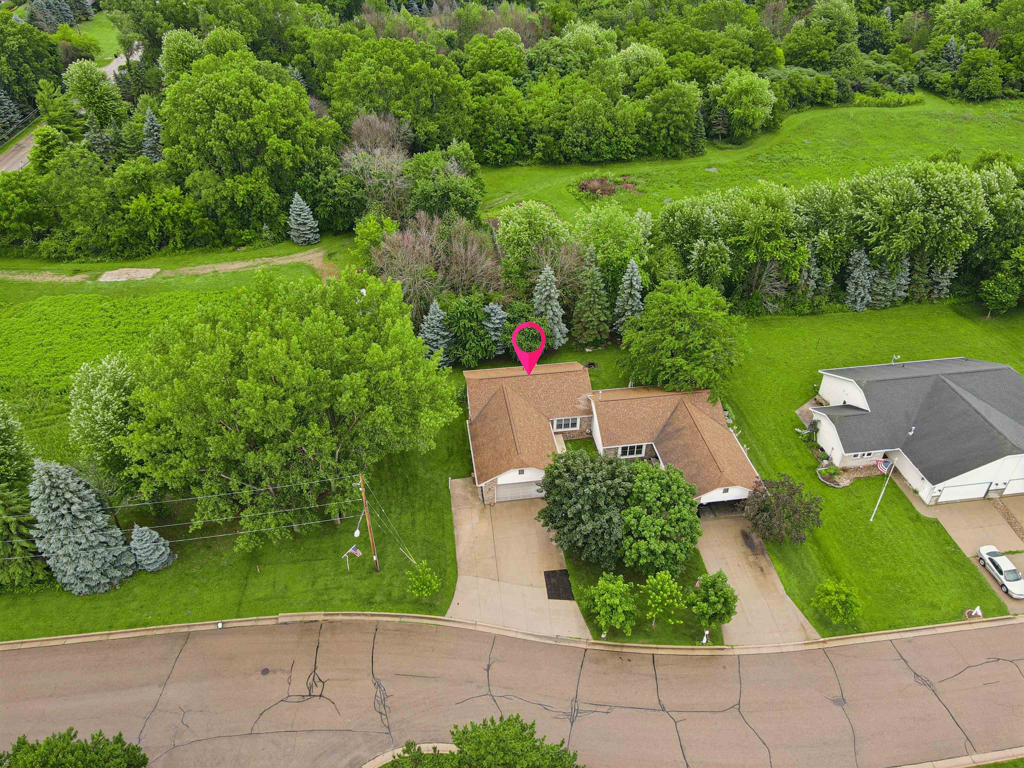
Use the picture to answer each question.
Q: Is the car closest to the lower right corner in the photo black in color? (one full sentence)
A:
No, the car closest to the lower right corner is actually white.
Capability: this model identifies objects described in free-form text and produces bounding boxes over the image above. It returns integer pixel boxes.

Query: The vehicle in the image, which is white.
[978,545,1024,596]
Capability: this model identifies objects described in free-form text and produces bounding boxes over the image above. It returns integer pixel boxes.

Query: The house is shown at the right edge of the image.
[809,357,1024,506]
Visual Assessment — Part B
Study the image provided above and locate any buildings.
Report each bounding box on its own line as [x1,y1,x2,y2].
[809,357,1024,506]
[463,362,769,527]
